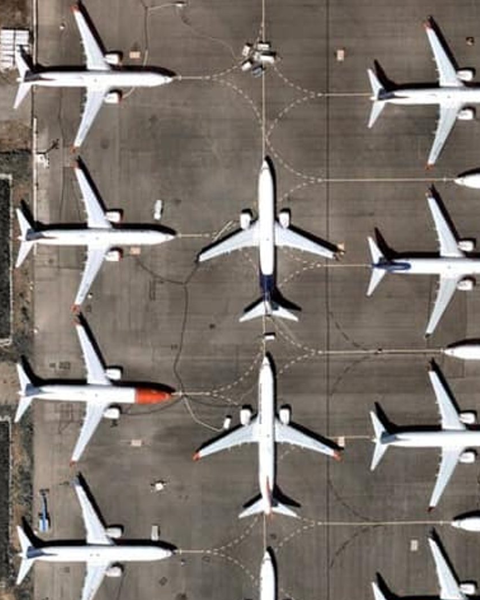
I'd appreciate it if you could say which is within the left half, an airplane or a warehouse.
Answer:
airplane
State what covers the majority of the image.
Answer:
paved ground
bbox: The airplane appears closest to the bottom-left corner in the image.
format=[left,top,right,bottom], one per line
[14,481,174,600]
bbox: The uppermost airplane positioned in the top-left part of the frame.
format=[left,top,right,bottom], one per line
[14,6,174,153]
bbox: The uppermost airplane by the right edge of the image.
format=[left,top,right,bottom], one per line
[367,23,480,171]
